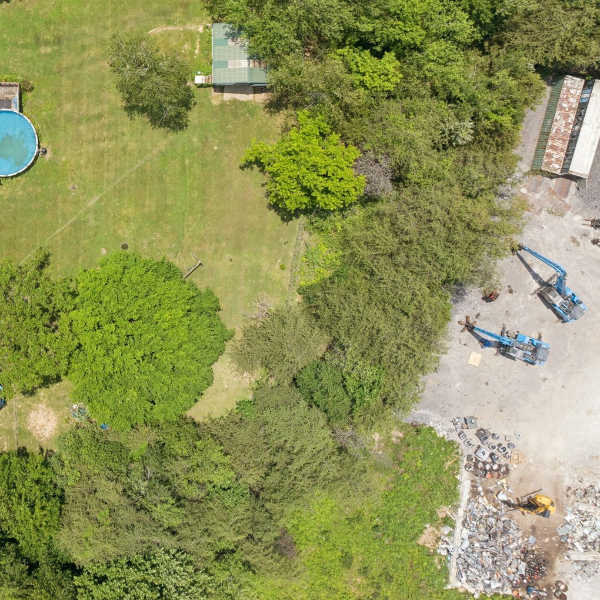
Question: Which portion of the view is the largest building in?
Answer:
top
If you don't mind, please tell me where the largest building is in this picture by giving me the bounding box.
[209,22,269,86]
